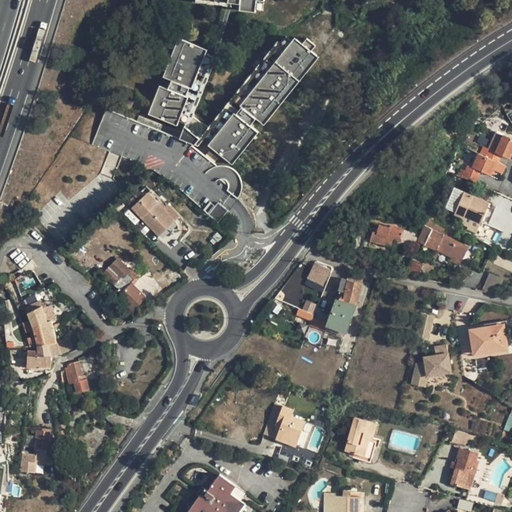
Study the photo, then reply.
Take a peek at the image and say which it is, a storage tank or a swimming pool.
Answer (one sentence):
There is a swimming pool in the scene.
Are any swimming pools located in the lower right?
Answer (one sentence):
Yes, a swimming pool appears in the lower right.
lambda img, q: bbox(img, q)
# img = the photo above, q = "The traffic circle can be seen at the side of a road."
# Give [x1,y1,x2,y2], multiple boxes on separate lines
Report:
[165,278,246,359]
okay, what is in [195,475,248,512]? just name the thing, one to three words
building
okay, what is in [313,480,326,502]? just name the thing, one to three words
swimming pool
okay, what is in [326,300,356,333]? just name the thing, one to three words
house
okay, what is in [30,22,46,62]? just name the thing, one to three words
vehicle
